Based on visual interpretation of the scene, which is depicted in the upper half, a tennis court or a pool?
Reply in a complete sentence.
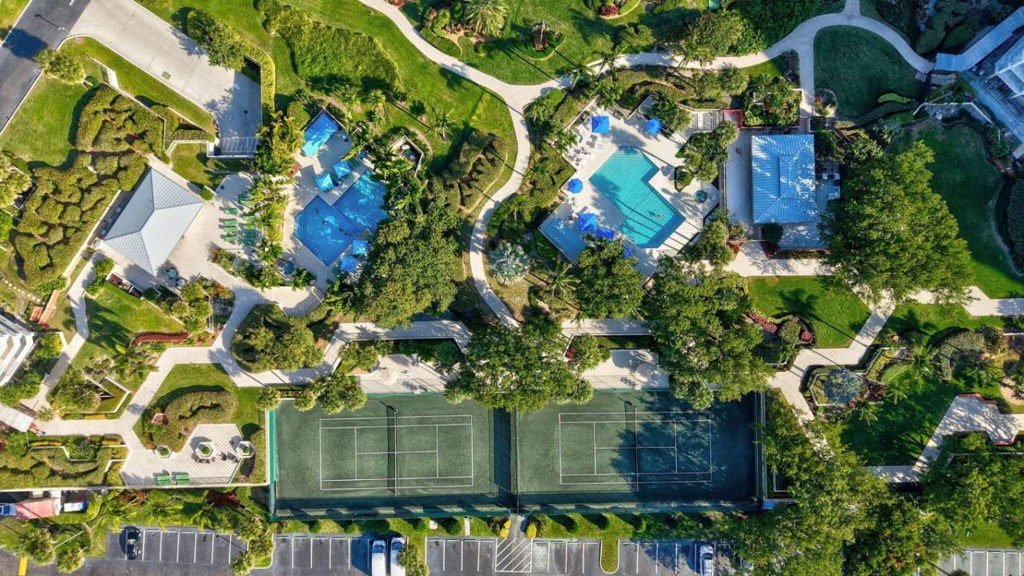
Visible in the upper half is a pool.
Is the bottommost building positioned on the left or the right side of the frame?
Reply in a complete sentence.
The bottommost building sits on the left side.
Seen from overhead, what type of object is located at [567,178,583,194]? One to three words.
umbrella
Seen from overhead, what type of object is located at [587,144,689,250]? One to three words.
swimming pool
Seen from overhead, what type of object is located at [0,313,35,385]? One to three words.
building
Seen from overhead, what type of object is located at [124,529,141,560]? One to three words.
car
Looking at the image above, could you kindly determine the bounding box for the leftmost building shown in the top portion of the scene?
[104,168,208,276]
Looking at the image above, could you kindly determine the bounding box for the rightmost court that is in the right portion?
[517,386,763,514]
